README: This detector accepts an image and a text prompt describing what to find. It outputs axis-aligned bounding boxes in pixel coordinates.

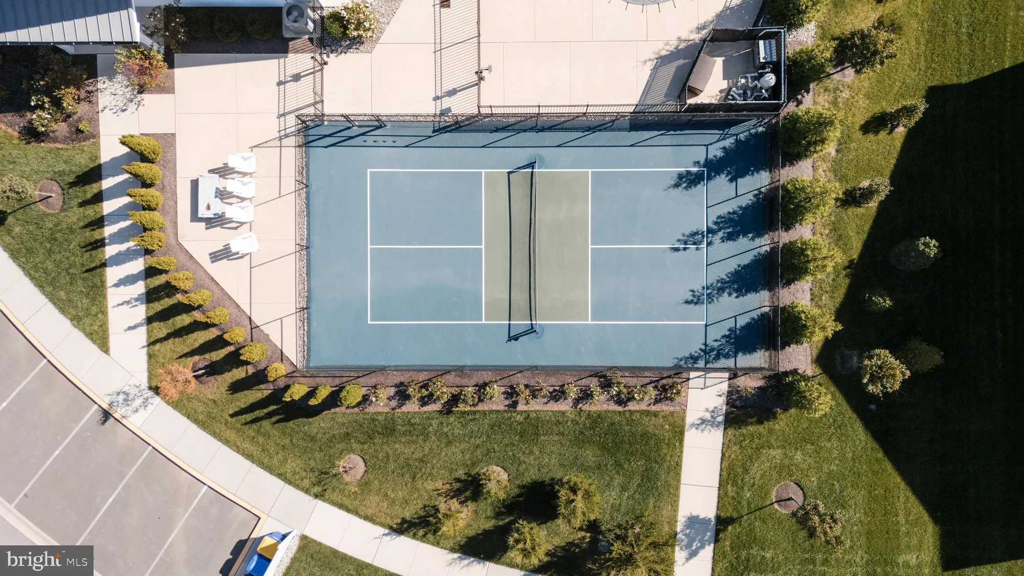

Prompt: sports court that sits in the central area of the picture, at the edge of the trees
[306,119,770,369]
